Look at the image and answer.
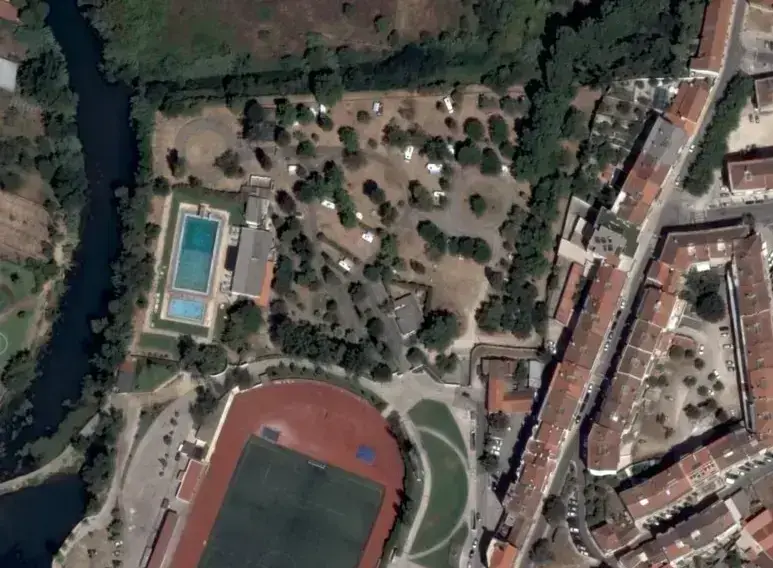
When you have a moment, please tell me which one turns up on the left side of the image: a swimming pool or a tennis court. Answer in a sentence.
It is a swimming pool that can be seen on the left side of the image.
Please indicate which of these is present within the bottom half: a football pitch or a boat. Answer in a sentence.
The one visible within the bottom half is a football pitch.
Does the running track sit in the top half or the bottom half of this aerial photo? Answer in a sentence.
Seen from above, the running track lies in the bottom half of the view.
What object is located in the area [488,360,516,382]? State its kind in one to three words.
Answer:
house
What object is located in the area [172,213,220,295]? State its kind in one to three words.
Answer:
swimming pool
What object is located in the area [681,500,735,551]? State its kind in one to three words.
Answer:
building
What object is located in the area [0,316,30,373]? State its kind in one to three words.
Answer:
soccer field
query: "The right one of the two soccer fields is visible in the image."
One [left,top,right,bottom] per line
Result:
[202,437,384,568]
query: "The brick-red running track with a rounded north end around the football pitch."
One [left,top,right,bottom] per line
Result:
[171,380,405,568]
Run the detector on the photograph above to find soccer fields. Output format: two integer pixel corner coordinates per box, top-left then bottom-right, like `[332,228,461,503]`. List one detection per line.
[202,437,384,568]
[0,316,30,373]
